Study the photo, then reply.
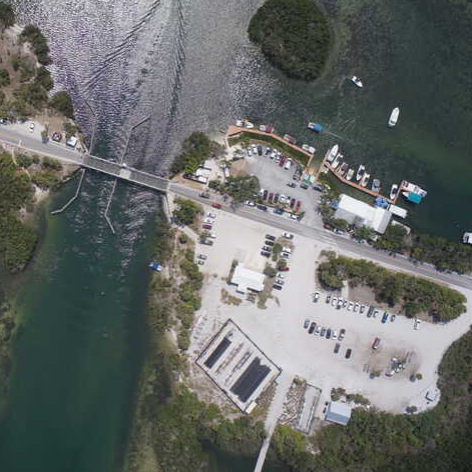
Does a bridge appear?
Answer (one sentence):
Yes, looking at the shot, I can spot a bridge.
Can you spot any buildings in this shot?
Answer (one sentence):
Yes, there is a building in the image.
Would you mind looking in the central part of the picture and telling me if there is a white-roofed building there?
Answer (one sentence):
Yes, a white-roofed building is visible in the central part of the picture.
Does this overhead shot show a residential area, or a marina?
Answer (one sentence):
This image shows a marina.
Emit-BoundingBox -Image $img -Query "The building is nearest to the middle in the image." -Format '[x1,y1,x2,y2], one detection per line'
[230,264,265,294]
